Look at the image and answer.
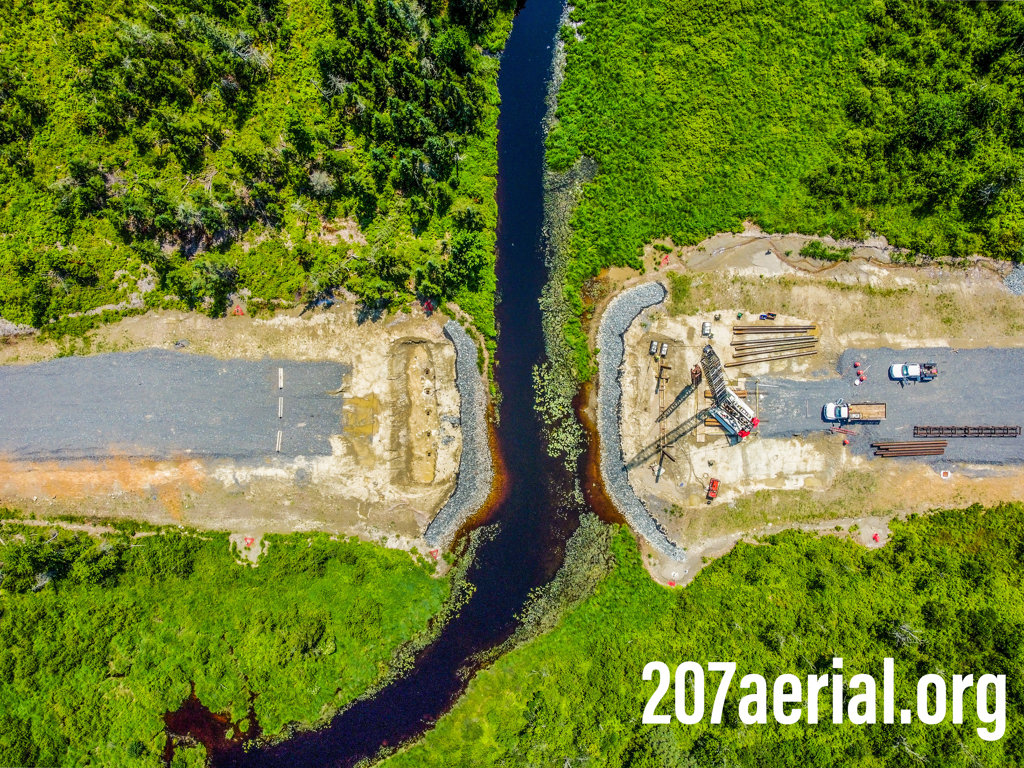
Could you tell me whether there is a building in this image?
No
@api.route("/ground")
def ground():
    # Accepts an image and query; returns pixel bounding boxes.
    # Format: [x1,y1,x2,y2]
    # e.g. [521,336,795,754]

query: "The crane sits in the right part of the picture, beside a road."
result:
[697,343,764,441]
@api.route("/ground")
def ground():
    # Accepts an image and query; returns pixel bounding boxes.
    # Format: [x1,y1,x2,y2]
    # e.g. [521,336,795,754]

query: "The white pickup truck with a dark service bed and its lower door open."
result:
[889,360,941,385]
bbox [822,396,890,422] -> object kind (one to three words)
truck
